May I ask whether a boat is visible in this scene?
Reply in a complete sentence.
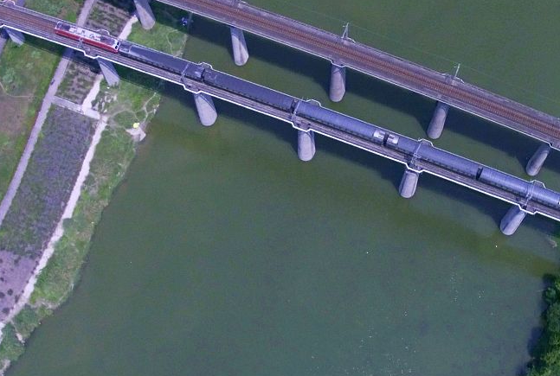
No, the photo shows no boat.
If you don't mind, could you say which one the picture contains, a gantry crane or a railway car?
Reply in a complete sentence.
The one in the frame is a railway car.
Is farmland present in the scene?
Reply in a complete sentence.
No, no farmland is visible.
